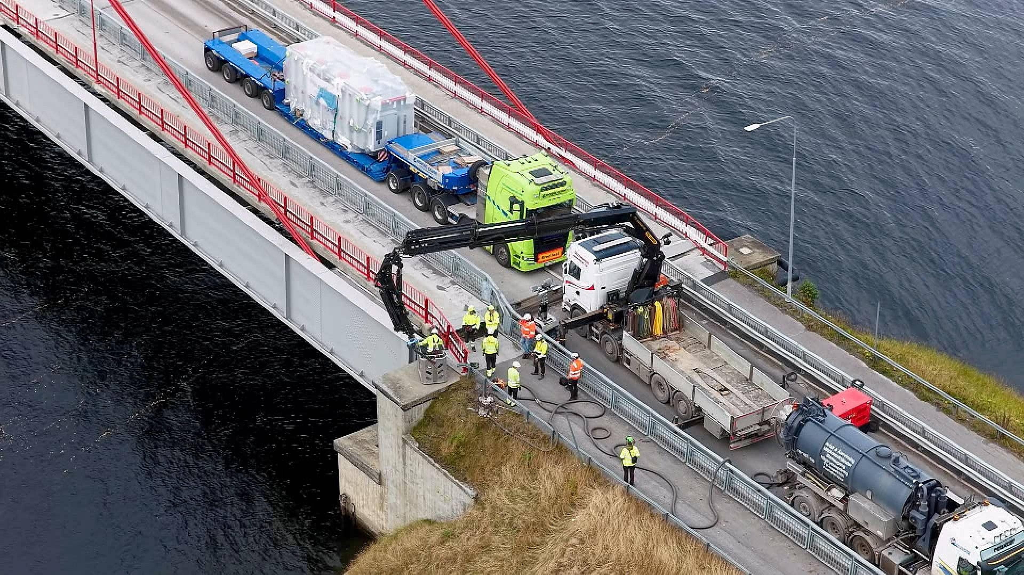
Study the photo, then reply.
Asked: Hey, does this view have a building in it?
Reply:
No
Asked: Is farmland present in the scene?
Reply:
No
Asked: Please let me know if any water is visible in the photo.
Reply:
Yes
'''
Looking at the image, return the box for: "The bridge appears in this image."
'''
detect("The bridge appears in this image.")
[0,0,706,398]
